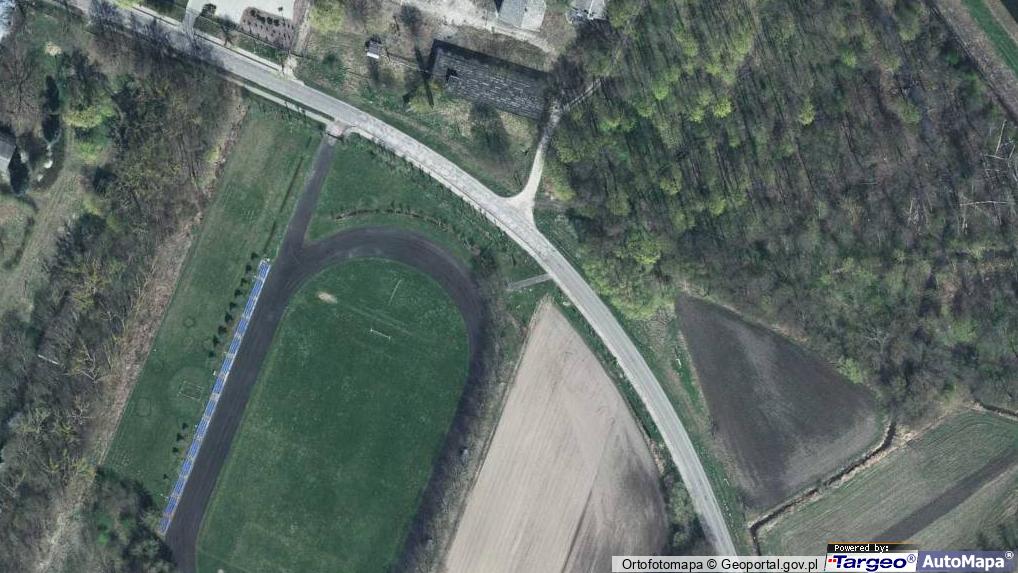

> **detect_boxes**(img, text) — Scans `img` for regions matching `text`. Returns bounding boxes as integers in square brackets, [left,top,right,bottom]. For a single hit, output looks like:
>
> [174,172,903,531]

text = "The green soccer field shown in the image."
[195,257,469,573]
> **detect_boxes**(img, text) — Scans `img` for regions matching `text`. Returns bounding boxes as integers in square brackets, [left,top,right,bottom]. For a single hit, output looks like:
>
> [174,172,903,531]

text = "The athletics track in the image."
[164,226,489,573]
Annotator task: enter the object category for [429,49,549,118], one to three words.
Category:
barn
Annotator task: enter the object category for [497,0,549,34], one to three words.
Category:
house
